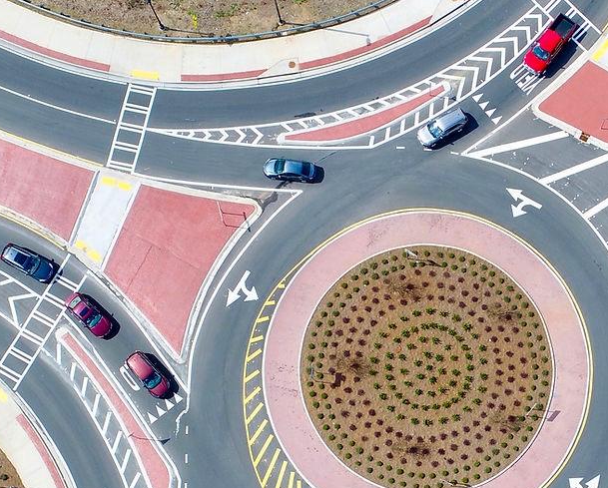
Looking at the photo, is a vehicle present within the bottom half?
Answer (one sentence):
Yes, within the bottom half there is a vehicle.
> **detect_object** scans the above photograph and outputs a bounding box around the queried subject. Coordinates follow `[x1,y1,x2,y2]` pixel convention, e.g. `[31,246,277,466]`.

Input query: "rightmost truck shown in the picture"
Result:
[526,8,578,67]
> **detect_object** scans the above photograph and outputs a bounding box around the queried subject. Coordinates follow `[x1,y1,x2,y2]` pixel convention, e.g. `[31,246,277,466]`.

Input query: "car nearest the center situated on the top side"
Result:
[263,154,315,180]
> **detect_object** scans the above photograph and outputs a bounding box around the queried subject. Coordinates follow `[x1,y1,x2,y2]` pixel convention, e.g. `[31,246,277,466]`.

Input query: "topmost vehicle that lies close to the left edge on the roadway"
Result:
[0,242,51,281]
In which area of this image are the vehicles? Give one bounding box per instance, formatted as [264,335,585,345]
[0,242,51,281]
[59,294,109,339]
[263,154,315,180]
[526,8,578,67]
[121,352,167,399]
[416,106,467,143]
